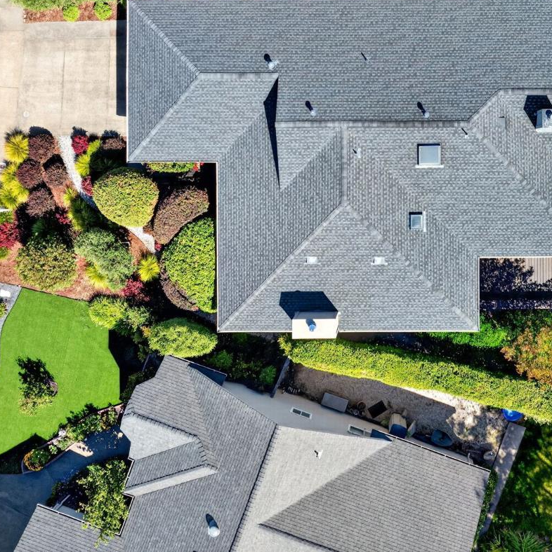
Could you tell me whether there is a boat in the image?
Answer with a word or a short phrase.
No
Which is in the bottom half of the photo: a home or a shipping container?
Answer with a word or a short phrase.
home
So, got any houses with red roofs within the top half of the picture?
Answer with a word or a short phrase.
No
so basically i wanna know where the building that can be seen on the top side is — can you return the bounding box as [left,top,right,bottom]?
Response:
[126,0,552,341]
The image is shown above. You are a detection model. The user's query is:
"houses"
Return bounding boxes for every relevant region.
[126,0,552,341]
[13,353,488,552]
